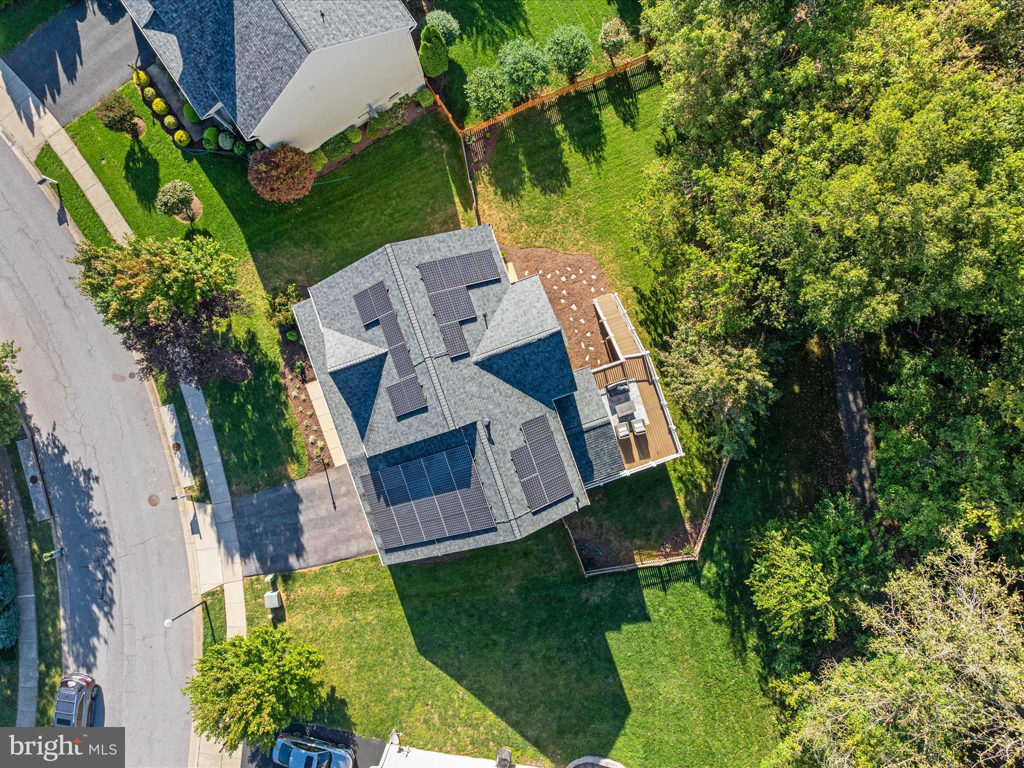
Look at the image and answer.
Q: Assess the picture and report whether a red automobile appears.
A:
No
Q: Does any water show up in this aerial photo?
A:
No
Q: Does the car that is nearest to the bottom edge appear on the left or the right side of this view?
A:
left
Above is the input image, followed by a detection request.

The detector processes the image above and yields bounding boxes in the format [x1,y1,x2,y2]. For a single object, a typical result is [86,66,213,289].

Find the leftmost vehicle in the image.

[52,670,101,753]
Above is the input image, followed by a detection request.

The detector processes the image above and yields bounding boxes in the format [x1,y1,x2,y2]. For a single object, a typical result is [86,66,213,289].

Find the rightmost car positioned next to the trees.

[271,730,356,768]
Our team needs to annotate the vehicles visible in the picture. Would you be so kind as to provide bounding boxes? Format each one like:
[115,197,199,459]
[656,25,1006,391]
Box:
[271,730,356,768]
[52,670,101,753]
